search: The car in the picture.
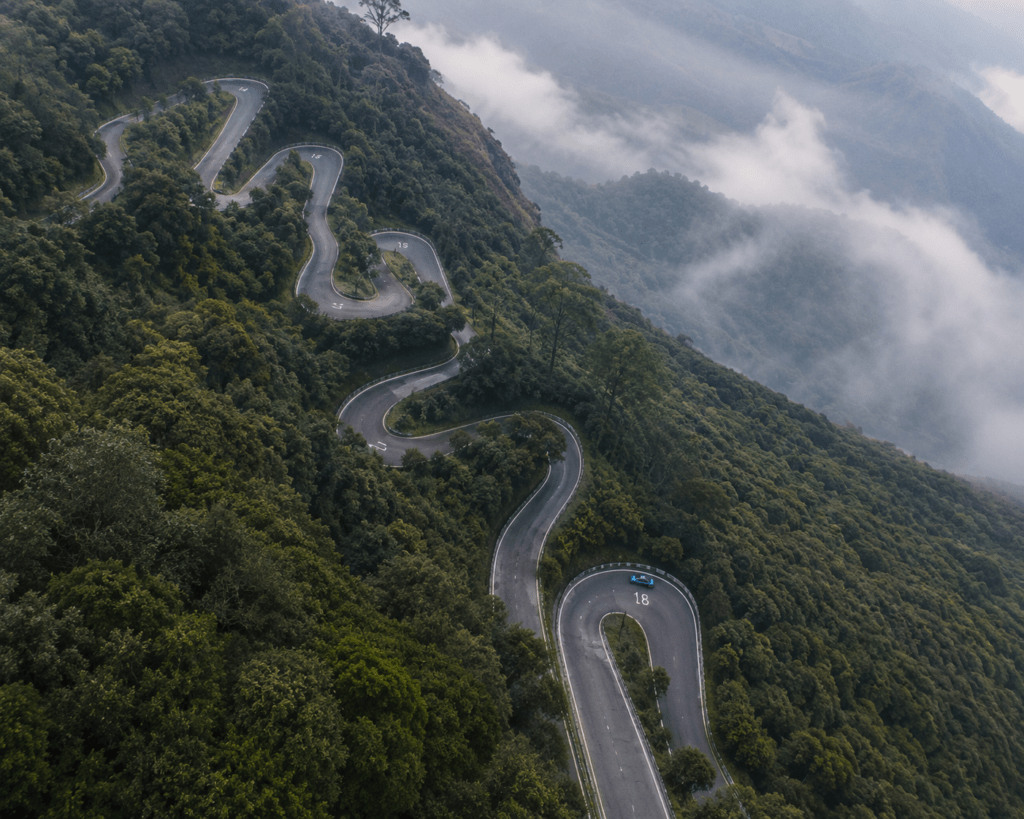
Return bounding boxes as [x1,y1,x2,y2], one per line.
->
[633,572,654,587]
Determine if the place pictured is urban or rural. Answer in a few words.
rural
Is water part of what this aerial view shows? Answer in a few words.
No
